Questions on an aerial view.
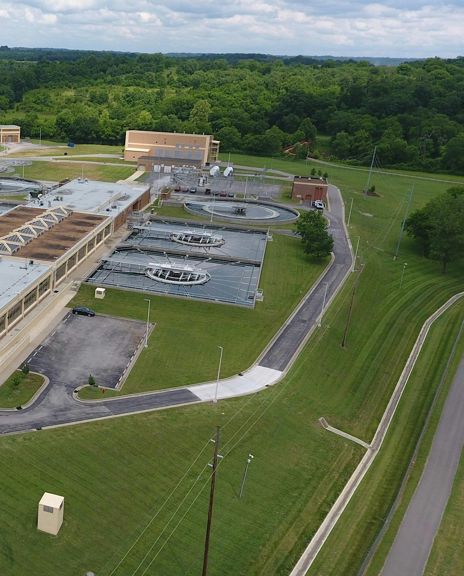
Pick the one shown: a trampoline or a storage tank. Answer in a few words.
storage tank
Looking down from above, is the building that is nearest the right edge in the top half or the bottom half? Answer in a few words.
top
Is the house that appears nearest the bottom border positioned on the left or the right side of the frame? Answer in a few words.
left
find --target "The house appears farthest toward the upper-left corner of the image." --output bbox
[0,125,21,143]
